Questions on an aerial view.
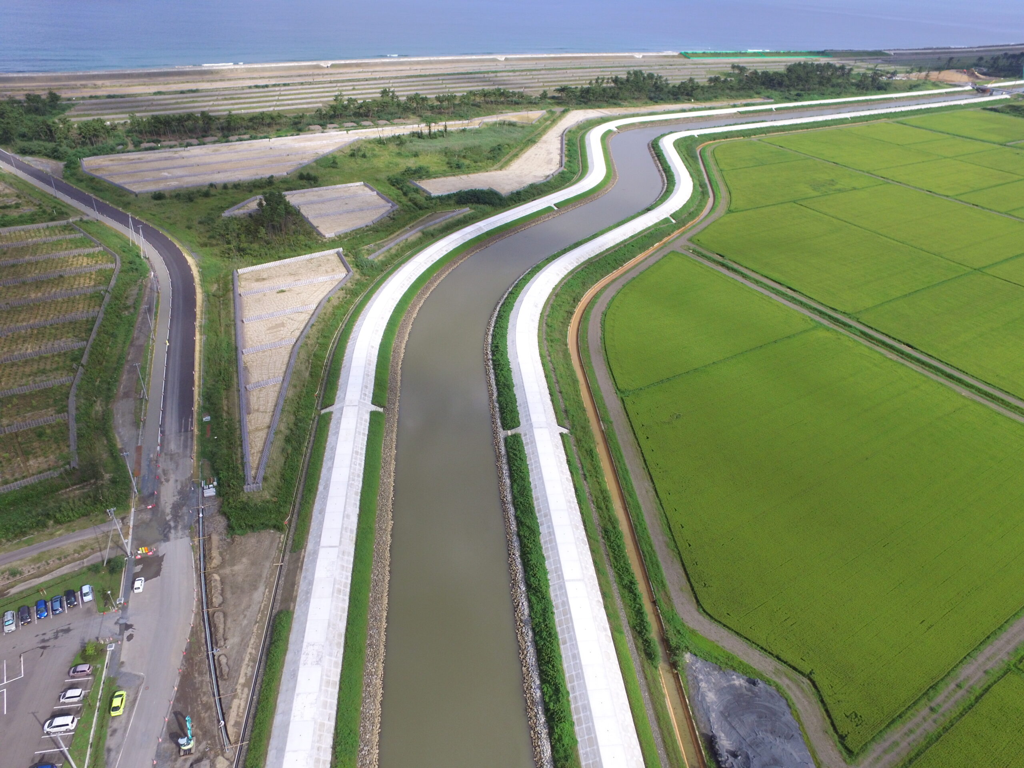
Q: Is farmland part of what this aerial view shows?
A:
Yes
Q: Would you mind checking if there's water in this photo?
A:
Yes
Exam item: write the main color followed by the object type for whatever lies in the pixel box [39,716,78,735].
white car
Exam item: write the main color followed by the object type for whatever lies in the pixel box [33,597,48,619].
blue car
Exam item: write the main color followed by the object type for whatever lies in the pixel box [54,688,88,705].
white car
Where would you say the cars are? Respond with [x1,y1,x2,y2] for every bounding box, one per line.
[133,575,146,592]
[17,604,31,625]
[54,688,88,705]
[48,593,63,615]
[33,597,48,619]
[65,663,95,679]
[39,716,78,735]
[0,608,16,633]
[64,587,77,607]
[108,688,127,717]
[79,579,93,602]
